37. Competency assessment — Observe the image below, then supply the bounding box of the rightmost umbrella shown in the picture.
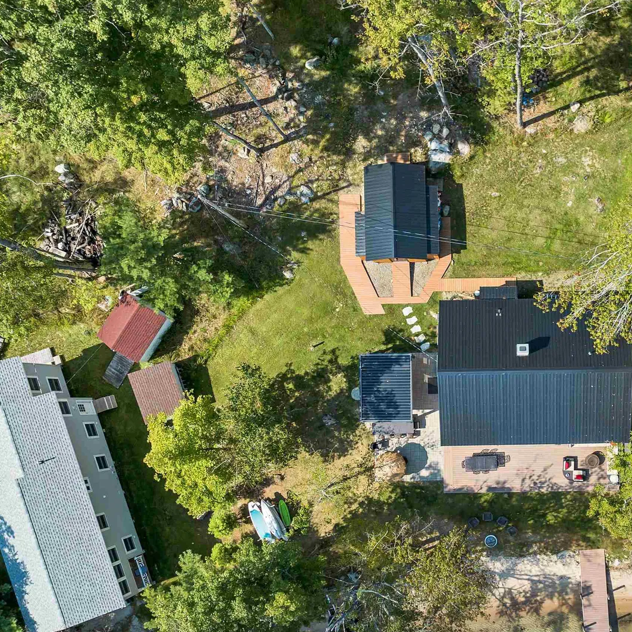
[370,446,411,486]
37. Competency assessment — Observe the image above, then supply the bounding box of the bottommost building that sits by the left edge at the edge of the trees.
[0,354,154,632]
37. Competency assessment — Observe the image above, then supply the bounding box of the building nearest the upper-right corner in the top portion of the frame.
[356,161,439,264]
